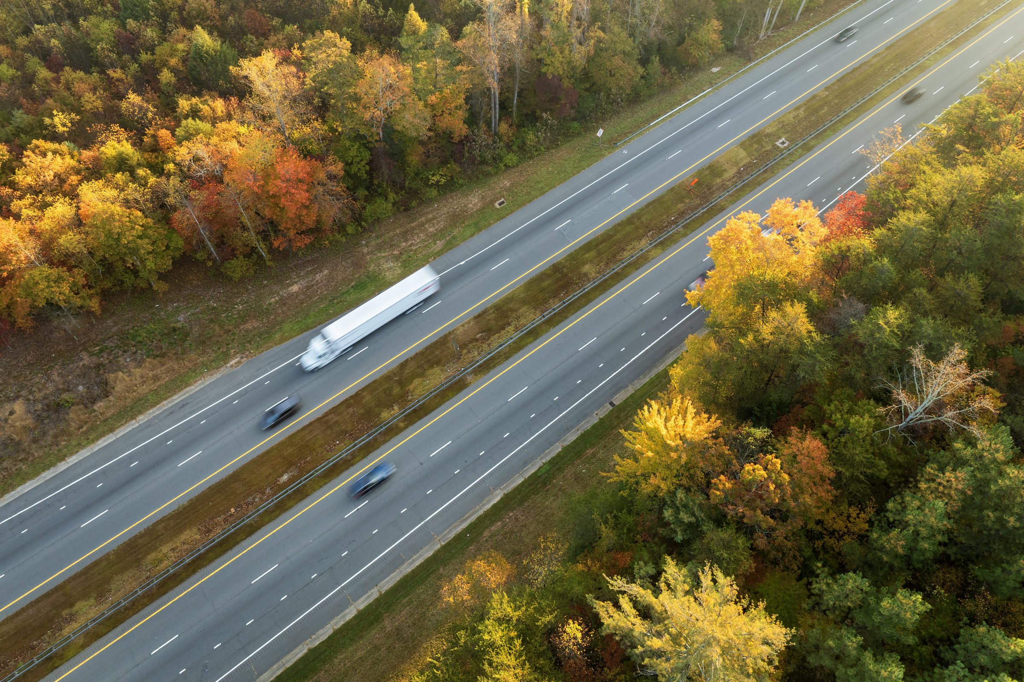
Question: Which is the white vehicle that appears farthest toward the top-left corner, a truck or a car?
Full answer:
I'd identify the white vehicle that appears farthest toward the top-left corner as a truck.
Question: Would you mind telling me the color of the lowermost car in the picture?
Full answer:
From above, the lowermost car appears blue.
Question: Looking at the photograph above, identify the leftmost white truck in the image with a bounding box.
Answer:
[299,265,446,376]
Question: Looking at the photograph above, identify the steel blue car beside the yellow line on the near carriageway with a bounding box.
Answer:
[350,464,391,498]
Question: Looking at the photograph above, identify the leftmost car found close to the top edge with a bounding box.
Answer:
[833,24,857,43]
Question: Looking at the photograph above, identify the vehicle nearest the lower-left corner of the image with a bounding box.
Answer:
[260,398,299,429]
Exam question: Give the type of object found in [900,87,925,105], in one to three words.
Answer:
car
